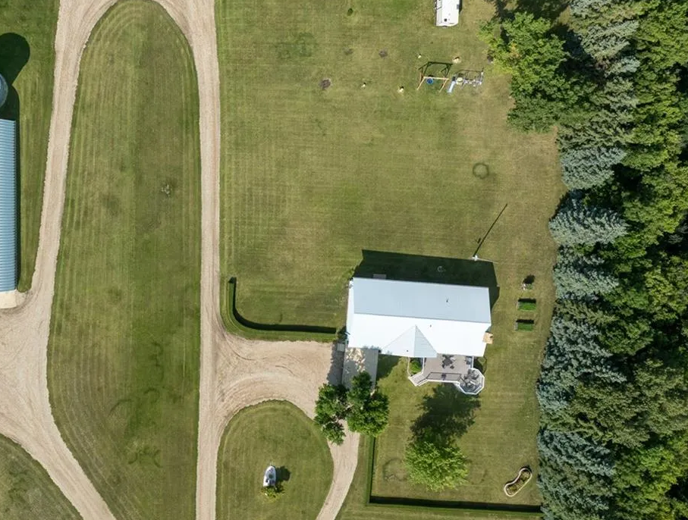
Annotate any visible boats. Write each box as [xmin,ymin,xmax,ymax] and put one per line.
[263,462,276,487]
